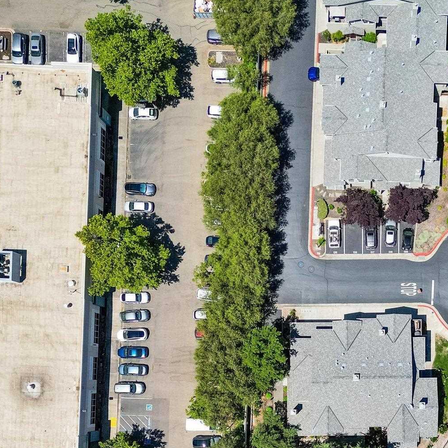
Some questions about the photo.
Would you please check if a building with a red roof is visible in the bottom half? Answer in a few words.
No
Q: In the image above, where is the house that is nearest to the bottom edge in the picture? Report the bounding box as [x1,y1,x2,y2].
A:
[287,313,438,448]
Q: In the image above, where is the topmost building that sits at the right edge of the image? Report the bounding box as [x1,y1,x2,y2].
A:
[320,0,448,192]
